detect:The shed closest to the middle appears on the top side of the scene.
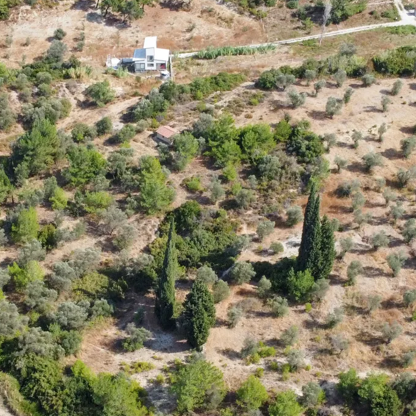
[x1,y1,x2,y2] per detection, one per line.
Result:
[154,125,182,146]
